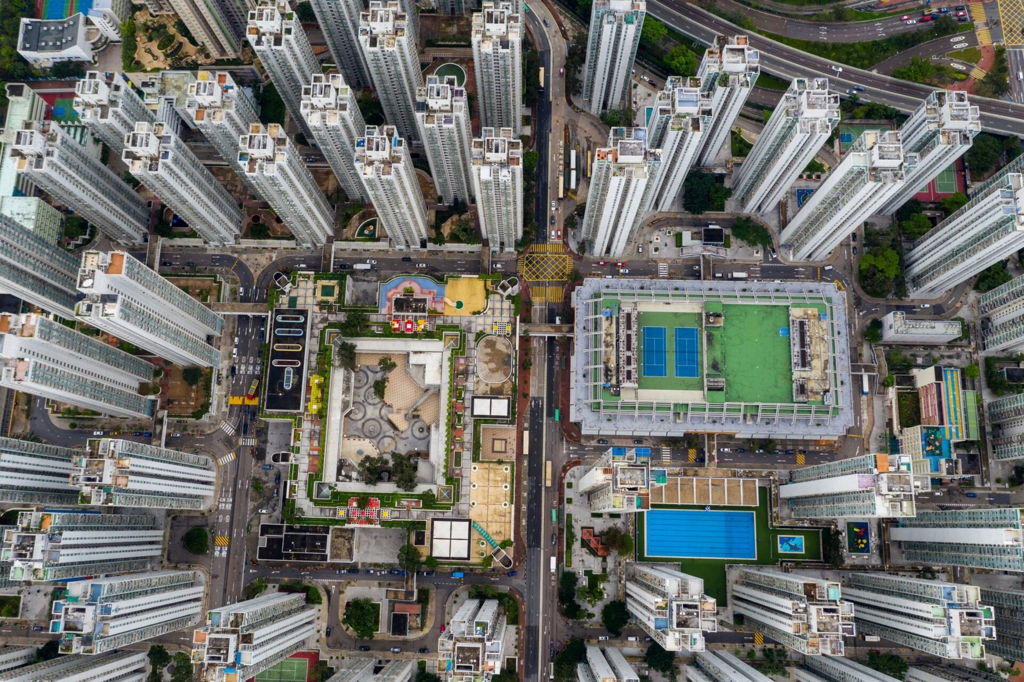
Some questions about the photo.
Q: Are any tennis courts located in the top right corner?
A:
Yes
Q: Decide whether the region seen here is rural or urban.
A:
urban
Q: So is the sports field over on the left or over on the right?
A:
right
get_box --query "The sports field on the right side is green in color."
[723,304,792,402]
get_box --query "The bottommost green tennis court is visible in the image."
[254,650,320,682]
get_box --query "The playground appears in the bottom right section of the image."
[847,522,870,553]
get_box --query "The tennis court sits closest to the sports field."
[673,328,700,377]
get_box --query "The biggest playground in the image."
[380,276,490,315]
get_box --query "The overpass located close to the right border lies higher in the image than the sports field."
[645,0,1024,137]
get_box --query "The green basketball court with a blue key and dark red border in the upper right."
[835,122,895,159]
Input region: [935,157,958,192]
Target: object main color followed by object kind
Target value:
green tennis court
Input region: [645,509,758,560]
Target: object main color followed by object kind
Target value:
blue swimming pool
